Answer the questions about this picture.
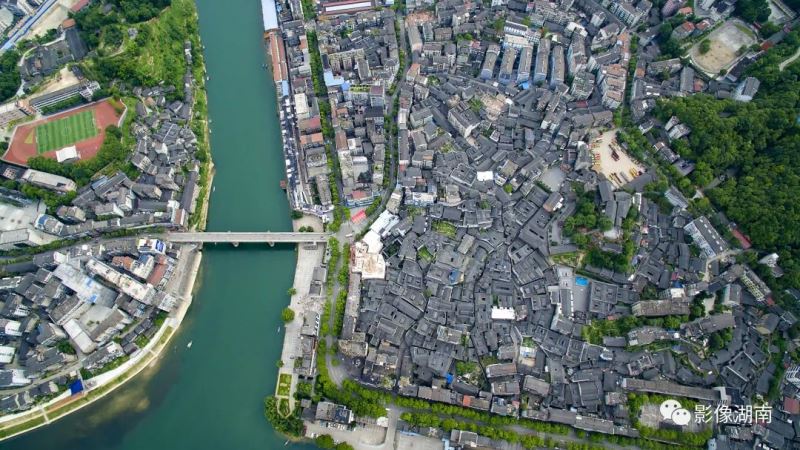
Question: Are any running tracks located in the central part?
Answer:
No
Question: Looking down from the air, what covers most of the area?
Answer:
buildings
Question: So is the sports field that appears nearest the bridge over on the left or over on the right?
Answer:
left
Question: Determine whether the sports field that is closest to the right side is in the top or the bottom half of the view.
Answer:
top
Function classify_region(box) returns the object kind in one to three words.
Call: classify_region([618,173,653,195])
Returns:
house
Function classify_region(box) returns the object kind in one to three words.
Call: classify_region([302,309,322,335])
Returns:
building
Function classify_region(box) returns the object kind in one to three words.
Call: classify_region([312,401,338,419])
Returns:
building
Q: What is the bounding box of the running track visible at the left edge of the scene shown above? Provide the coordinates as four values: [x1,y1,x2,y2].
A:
[2,97,126,165]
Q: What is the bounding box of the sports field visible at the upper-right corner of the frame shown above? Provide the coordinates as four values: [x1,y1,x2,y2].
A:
[691,16,758,73]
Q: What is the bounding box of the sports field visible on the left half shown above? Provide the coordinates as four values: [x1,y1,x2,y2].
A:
[2,97,126,165]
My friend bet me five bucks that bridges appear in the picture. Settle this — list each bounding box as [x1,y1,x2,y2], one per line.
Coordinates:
[162,229,328,249]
